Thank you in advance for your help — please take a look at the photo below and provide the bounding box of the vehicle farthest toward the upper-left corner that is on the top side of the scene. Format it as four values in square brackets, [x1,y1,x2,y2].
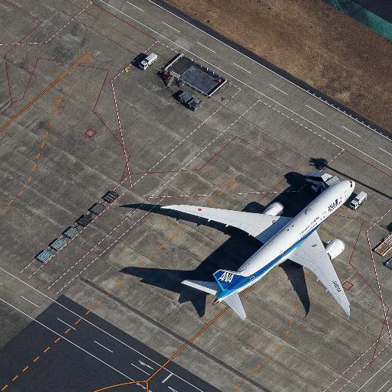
[138,48,158,70]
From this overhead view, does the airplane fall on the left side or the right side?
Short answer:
right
